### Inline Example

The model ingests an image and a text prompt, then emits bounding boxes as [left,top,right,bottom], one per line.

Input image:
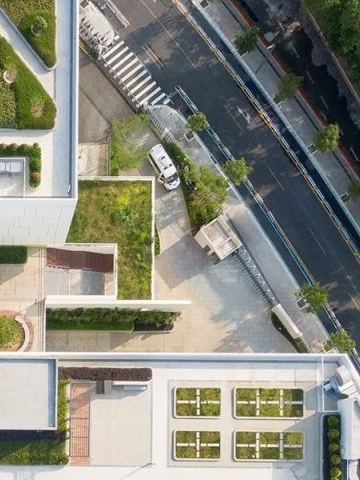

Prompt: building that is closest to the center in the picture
[189,216,242,267]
